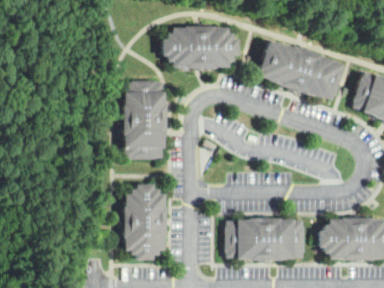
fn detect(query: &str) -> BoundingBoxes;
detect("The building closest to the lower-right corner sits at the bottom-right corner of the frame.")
[318,218,384,260]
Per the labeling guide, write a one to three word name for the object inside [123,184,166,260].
building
